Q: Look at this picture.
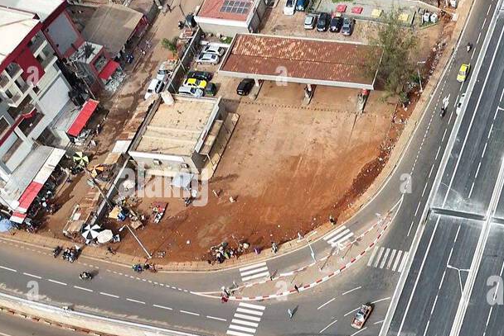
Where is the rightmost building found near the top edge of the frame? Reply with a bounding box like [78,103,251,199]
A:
[194,0,277,42]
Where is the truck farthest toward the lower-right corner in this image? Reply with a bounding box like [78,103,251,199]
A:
[351,300,374,332]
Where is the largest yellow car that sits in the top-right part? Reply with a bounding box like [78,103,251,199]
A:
[457,63,470,83]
